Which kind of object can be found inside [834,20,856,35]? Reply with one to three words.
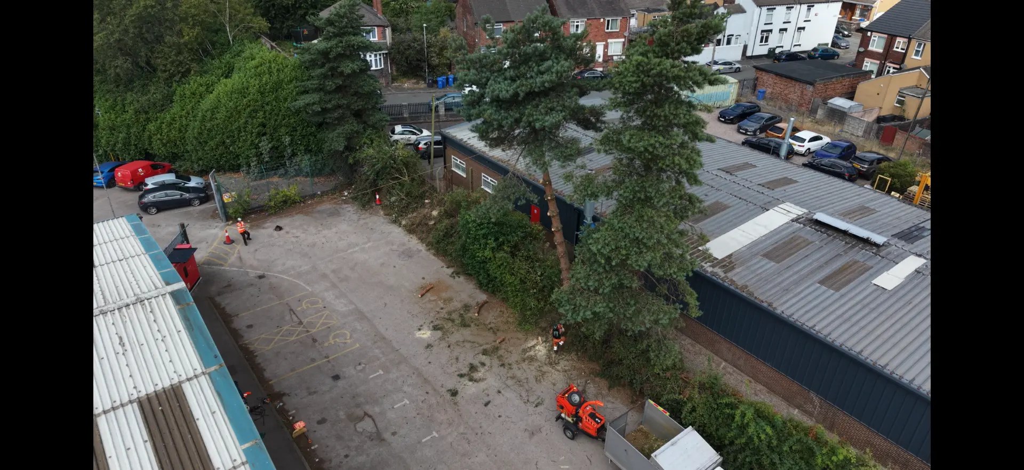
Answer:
car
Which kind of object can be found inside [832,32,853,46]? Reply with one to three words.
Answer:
car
